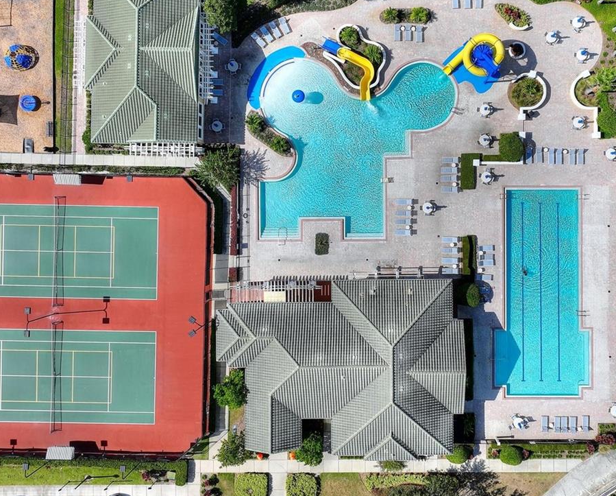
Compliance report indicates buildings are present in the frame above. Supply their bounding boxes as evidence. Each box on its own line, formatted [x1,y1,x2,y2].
[84,0,205,144]
[215,279,467,461]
